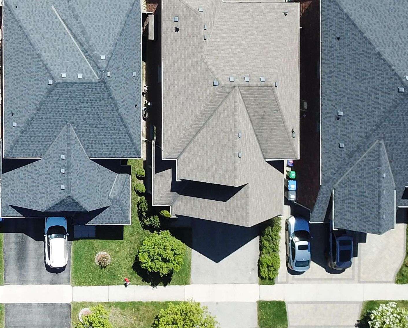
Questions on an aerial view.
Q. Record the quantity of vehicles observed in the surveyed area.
3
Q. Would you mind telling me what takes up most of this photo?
buildings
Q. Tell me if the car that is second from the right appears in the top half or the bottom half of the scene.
bottom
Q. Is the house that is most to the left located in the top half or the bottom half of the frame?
top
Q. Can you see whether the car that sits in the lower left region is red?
No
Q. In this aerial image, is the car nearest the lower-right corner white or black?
black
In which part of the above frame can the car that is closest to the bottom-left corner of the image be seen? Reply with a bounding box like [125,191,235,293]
[43,218,70,269]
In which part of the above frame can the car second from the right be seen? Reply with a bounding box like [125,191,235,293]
[283,215,312,275]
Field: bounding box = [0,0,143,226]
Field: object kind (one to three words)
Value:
house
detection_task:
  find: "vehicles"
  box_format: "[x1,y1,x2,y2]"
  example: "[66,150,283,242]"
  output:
[43,218,70,269]
[283,215,312,275]
[323,218,351,271]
